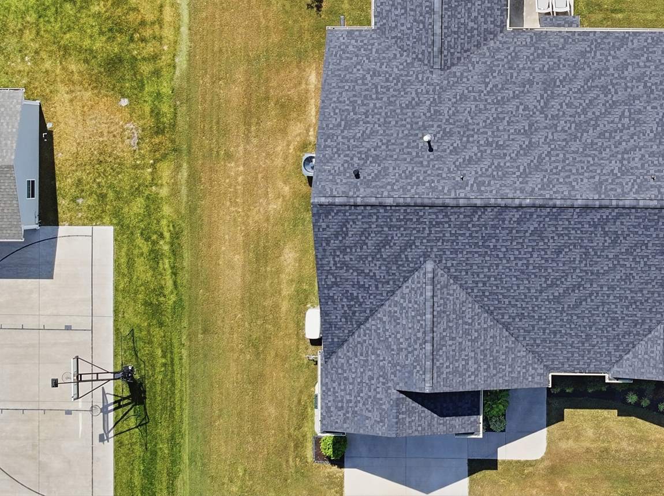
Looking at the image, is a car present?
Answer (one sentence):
No, the scene contains no car.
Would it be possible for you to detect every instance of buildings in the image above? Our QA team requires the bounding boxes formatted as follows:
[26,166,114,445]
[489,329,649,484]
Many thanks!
[0,88,46,242]
[311,0,664,437]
